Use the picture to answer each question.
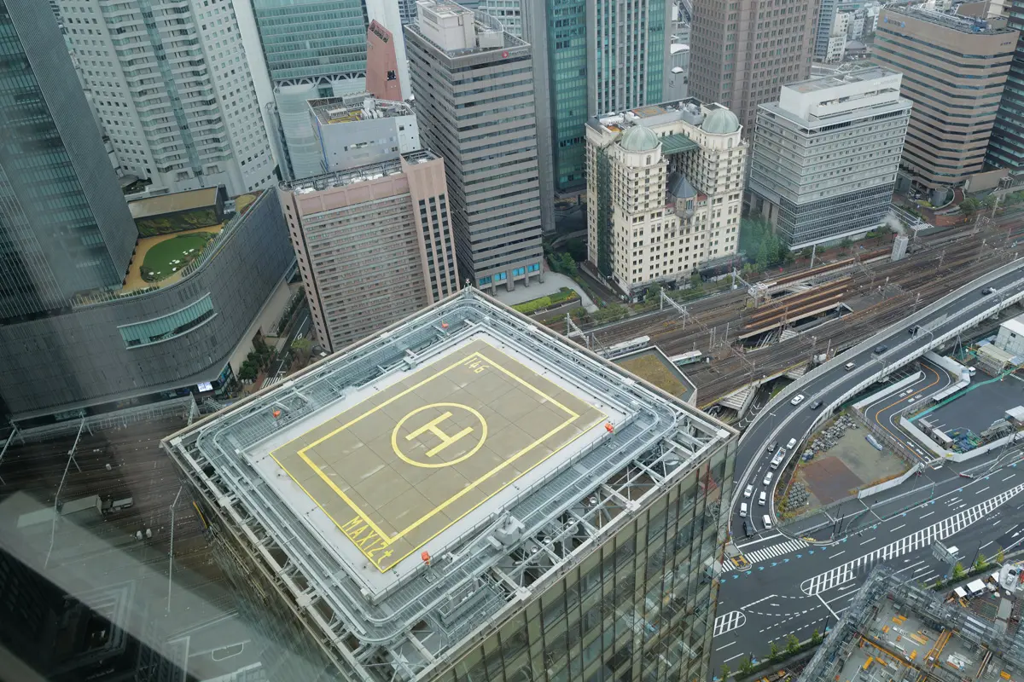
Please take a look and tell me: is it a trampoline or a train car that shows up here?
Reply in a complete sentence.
It is a train car that can be seen here.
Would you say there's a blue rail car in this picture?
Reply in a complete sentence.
No, I find no blue rail car anywhere in the image.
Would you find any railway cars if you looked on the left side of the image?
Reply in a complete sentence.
No, looking on the left side of the image, there is no railway car.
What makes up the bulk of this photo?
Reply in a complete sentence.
What you mostly see from above here is buildings.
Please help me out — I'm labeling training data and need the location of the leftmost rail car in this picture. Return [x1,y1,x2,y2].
[596,338,650,355]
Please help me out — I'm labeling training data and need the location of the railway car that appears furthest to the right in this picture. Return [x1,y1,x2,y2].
[668,350,703,368]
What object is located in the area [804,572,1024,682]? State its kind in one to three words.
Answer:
building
